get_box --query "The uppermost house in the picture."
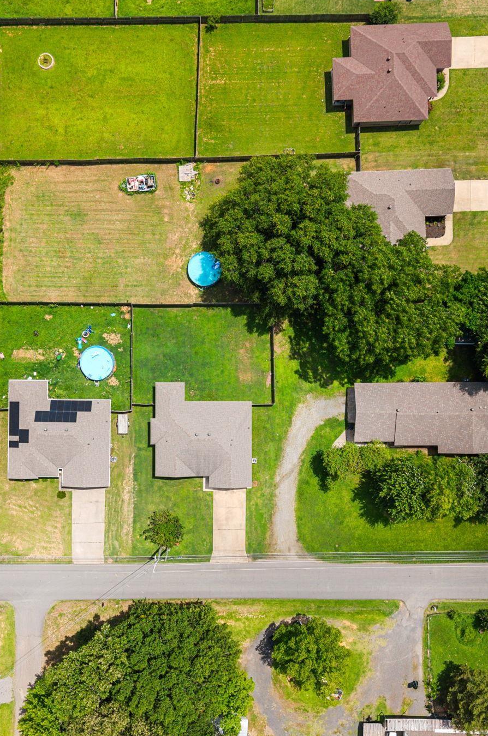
[333,22,454,126]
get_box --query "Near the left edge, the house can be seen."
[9,379,111,487]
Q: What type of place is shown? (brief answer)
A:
residential area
